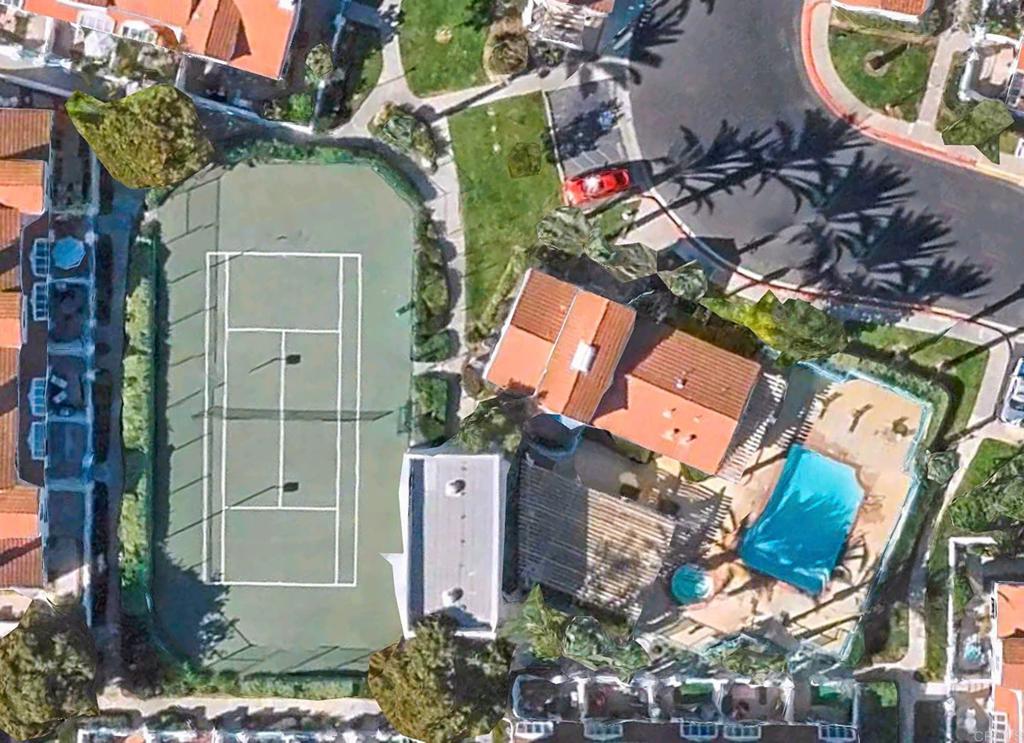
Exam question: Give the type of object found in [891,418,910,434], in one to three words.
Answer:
umbrella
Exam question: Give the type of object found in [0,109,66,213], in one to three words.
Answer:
house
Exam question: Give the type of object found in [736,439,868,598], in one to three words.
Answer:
swimming pool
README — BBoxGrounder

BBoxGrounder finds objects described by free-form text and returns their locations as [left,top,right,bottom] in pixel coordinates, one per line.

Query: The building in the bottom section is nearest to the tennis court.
[399,453,497,634]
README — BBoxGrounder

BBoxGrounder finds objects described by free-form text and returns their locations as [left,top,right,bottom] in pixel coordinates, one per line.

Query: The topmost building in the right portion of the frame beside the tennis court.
[484,268,762,475]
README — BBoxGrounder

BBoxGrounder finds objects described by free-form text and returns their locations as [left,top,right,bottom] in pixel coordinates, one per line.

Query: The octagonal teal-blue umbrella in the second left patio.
[54,237,86,269]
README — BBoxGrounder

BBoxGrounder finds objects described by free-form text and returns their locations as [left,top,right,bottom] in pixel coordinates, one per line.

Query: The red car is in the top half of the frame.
[563,166,634,204]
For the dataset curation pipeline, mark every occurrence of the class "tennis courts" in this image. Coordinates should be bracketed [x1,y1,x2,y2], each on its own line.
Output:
[154,161,414,673]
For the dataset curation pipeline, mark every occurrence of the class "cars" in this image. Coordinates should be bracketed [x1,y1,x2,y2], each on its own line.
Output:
[563,166,634,204]
[1002,356,1024,424]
